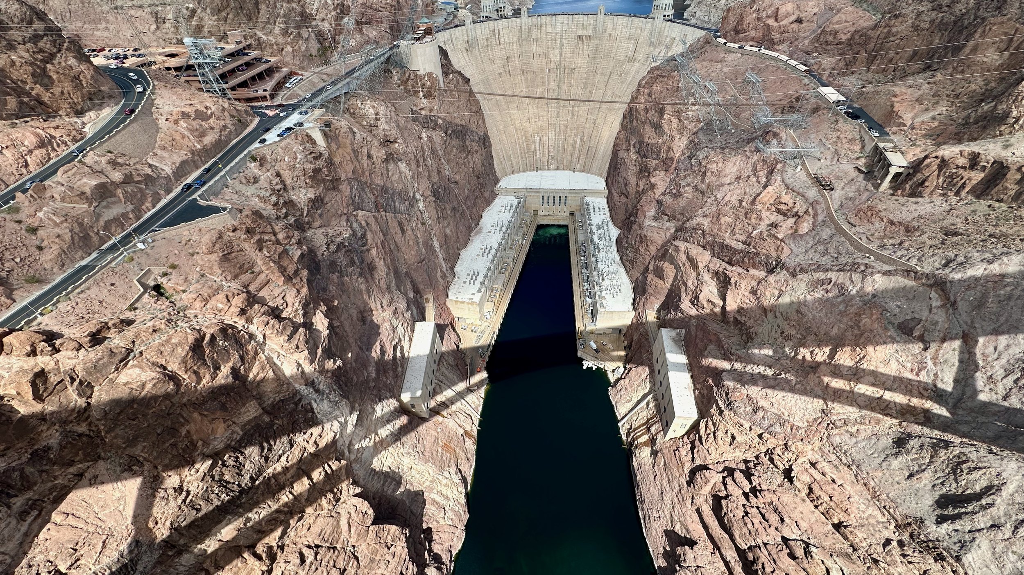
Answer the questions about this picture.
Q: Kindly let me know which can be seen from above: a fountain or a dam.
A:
dam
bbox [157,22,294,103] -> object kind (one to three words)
building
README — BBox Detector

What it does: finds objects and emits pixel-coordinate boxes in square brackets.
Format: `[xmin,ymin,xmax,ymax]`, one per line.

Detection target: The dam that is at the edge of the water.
[432,10,726,206]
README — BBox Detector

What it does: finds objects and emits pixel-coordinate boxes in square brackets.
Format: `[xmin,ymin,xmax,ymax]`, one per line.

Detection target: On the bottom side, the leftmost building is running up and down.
[401,322,441,423]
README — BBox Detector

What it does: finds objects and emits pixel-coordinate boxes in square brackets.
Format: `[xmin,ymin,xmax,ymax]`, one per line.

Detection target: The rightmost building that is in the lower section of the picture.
[645,328,697,446]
